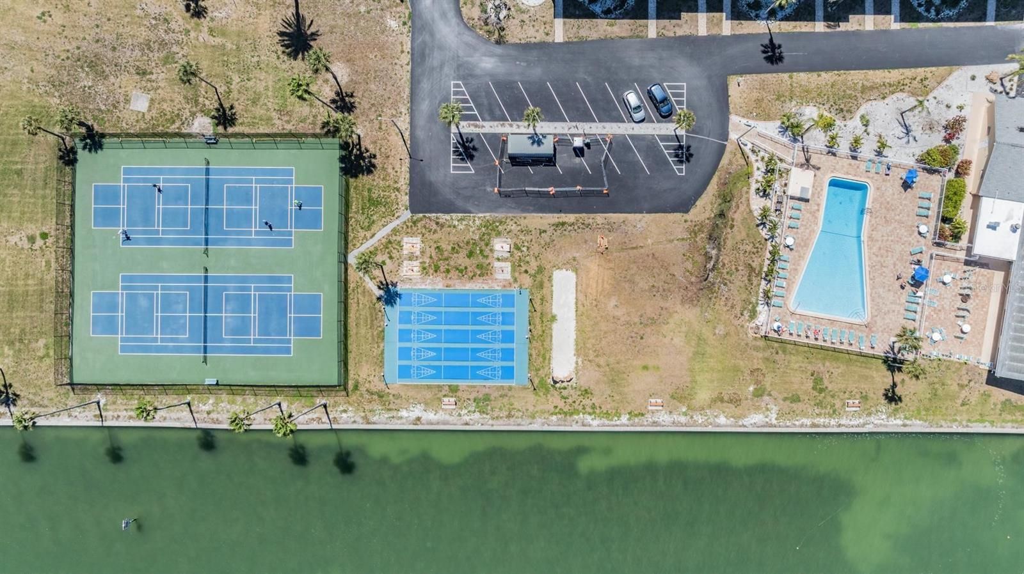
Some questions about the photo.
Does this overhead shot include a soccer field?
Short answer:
No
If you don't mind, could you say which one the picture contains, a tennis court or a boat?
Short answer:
tennis court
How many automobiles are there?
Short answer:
two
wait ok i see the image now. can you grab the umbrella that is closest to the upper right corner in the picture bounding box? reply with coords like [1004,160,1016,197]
[901,170,920,185]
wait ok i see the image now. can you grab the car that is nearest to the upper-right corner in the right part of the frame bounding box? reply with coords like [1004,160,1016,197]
[649,81,672,117]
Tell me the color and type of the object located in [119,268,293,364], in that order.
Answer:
blue tennis court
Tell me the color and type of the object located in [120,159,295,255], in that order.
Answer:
blue tennis court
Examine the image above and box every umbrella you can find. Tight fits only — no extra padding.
[901,170,920,185]
[914,265,931,283]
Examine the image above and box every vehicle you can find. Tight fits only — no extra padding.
[649,81,672,117]
[623,87,646,122]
